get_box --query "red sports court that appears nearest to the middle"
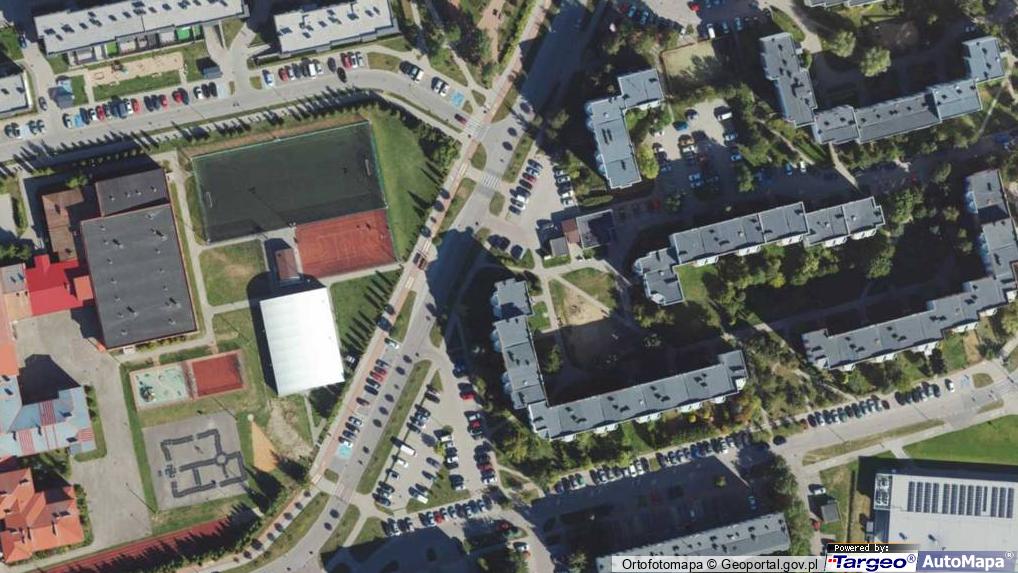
[295,209,396,278]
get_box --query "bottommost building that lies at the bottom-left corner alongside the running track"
[0,469,84,562]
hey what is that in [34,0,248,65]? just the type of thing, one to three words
building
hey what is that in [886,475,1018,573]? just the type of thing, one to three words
building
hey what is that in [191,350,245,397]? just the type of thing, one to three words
sports court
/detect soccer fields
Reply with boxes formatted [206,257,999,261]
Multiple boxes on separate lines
[192,119,398,260]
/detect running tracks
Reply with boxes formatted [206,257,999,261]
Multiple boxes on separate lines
[36,515,238,573]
